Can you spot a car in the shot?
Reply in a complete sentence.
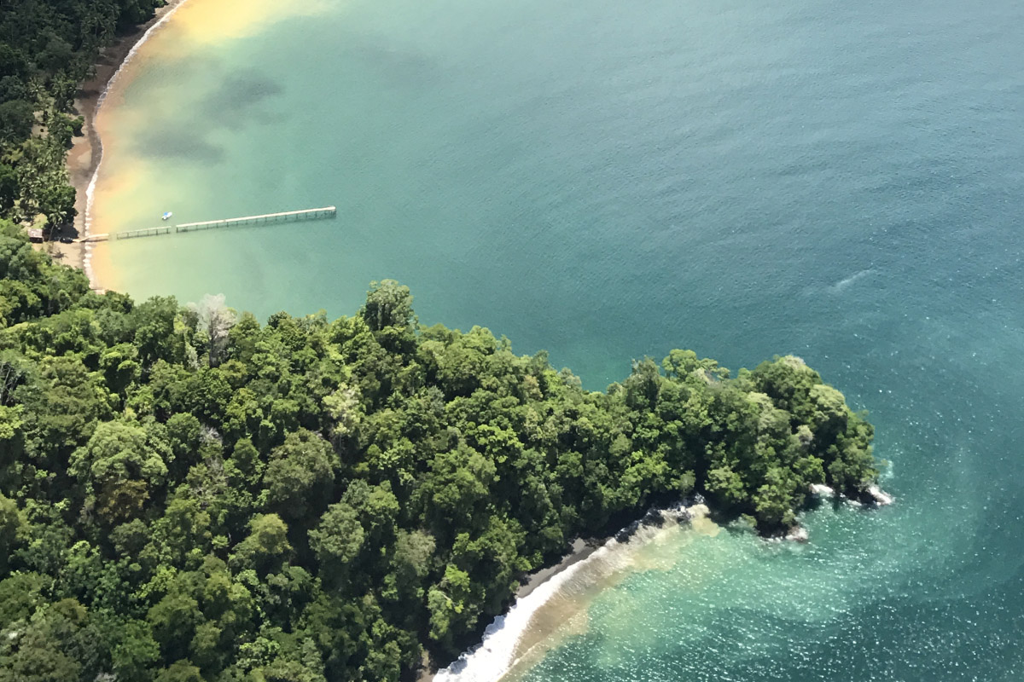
No, no car is visible in the scene.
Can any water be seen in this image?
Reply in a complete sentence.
Yes, there's water in this view.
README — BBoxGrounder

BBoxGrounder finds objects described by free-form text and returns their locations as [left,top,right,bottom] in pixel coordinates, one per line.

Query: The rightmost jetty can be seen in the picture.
[176,205,338,233]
